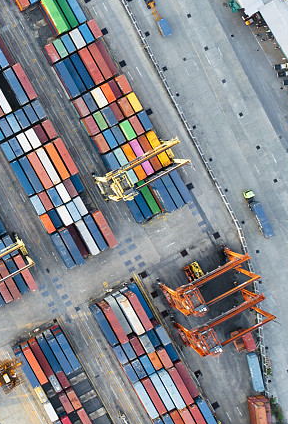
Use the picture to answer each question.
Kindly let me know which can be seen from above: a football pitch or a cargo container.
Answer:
cargo container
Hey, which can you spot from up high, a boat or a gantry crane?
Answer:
gantry crane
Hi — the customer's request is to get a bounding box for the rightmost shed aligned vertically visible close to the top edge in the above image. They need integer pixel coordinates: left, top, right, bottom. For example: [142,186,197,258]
[254,0,288,72]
